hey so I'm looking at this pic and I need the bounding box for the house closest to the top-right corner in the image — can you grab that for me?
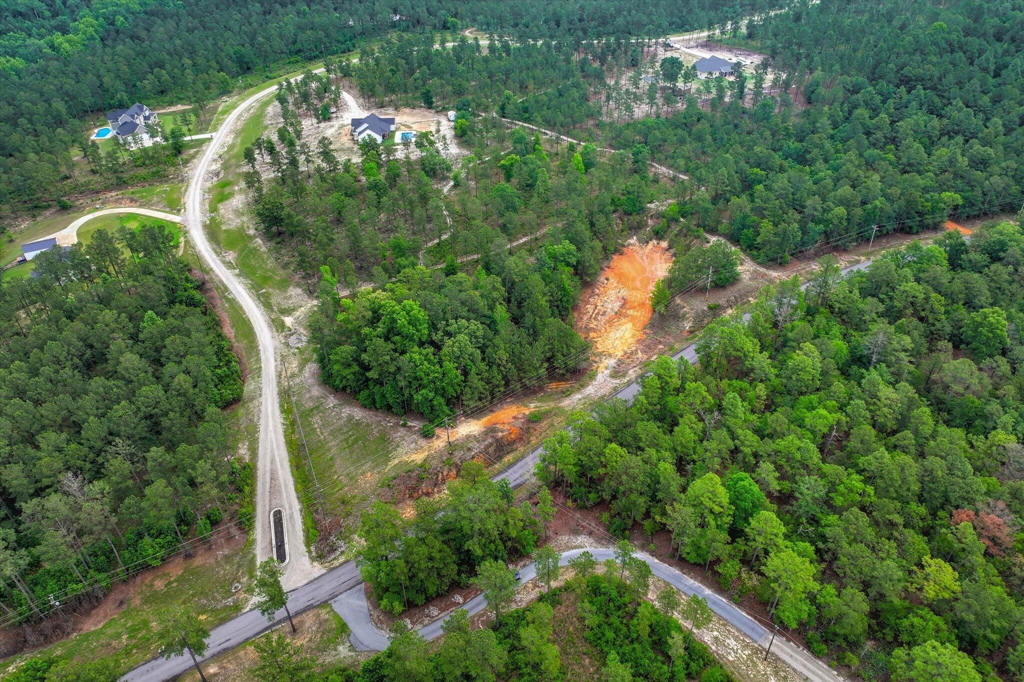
[681,57,735,80]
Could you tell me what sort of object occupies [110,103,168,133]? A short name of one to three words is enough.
house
